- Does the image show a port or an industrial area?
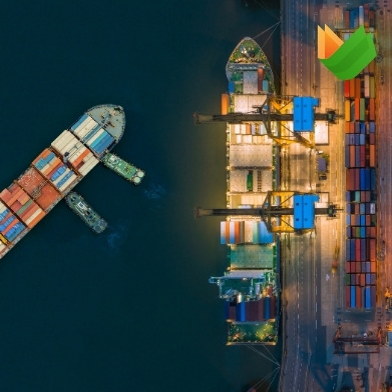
port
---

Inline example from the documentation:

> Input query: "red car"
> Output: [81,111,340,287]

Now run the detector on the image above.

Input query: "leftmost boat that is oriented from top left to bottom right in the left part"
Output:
[67,191,108,234]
